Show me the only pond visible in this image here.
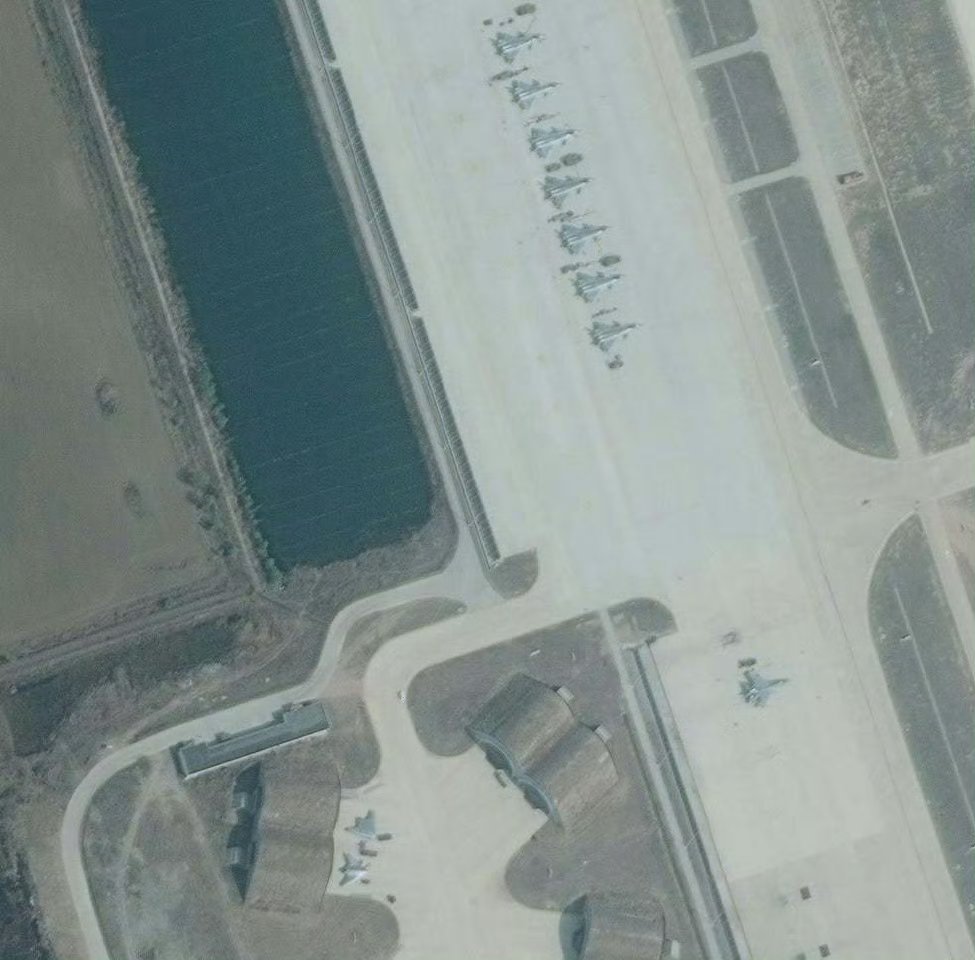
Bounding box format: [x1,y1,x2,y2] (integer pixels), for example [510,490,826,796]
[83,0,435,573]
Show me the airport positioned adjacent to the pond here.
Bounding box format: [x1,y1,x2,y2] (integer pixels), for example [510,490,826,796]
[318,0,975,960]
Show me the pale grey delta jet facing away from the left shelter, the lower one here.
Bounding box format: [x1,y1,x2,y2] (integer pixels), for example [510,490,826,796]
[338,857,379,882]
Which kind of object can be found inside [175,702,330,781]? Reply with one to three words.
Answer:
building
